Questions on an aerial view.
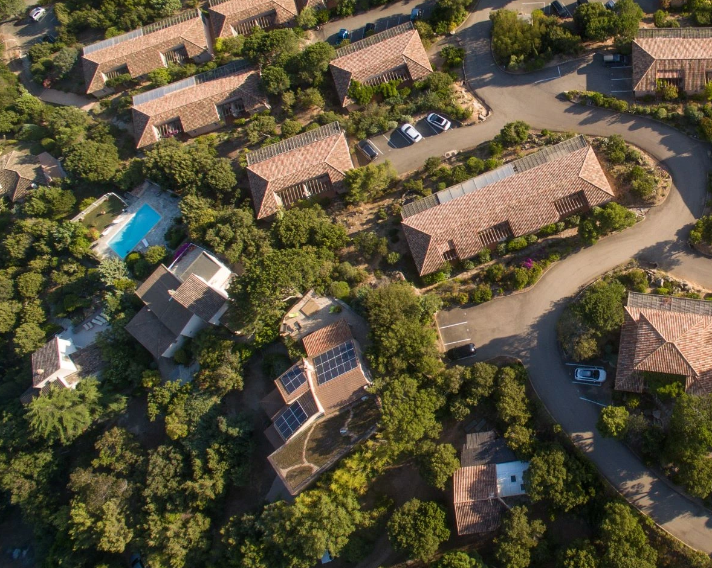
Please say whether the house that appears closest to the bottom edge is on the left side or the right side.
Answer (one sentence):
The house that appears closest to the bottom edge sits on the right side.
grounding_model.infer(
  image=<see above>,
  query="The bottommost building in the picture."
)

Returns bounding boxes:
[455,461,529,536]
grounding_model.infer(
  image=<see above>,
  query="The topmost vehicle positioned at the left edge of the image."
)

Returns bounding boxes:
[24,6,51,24]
